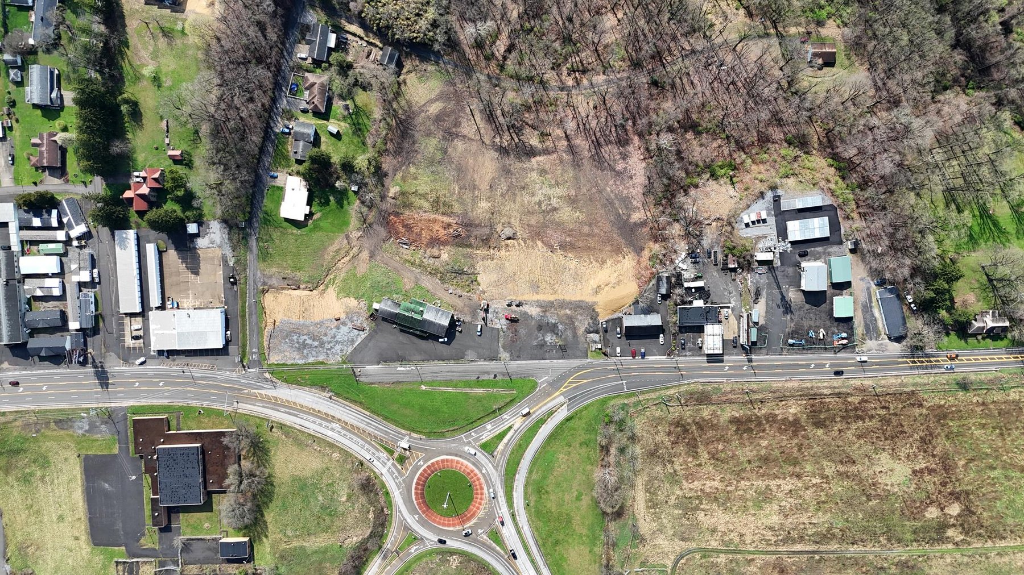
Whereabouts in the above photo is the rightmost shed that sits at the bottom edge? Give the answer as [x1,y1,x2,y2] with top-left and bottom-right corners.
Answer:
[220,538,252,558]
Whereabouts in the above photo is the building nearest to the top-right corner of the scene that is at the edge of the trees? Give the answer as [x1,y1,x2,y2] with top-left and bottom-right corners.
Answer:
[805,43,838,67]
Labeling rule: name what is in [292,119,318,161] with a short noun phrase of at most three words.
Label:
house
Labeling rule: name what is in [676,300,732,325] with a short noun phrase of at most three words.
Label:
building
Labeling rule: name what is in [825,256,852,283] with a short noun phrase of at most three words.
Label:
shed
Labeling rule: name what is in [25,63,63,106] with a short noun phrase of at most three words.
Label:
house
